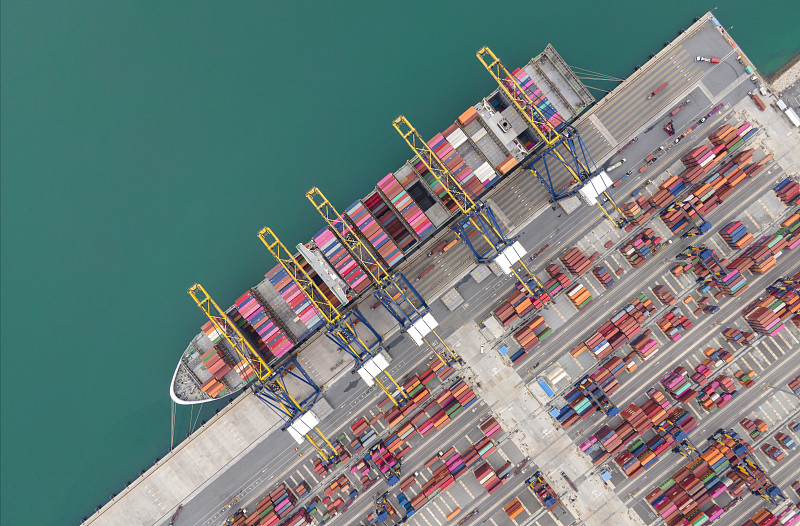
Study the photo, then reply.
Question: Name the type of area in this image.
port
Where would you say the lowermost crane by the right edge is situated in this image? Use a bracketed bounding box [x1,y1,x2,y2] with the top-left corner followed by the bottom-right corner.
[735,459,792,505]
